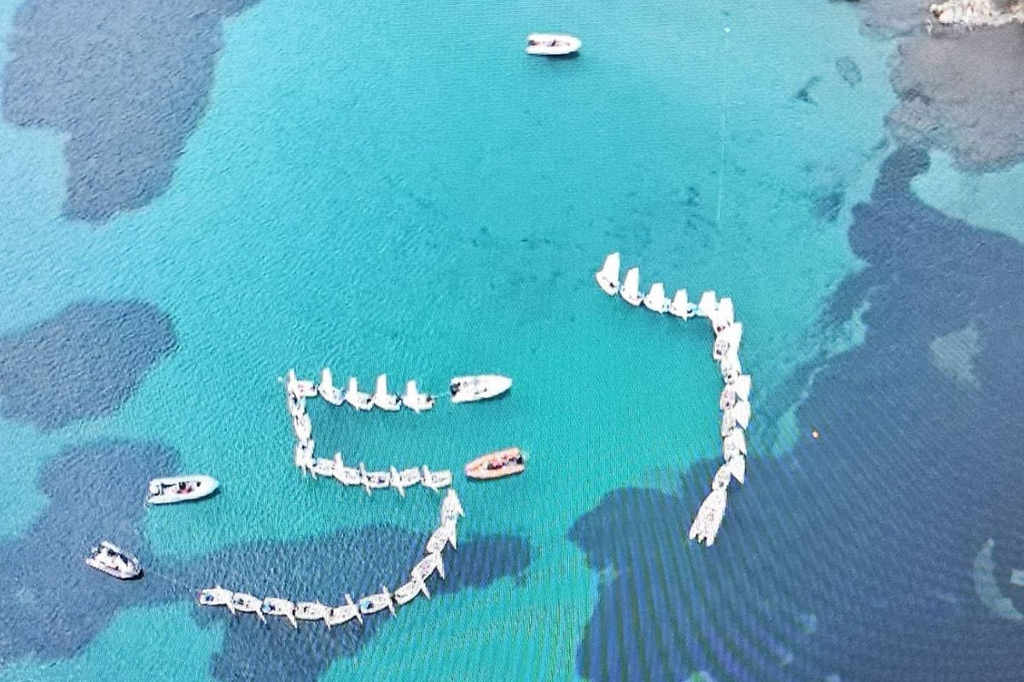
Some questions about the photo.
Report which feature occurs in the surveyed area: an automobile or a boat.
boat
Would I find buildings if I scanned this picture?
No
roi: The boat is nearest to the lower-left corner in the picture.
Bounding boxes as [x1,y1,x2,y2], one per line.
[84,544,141,573]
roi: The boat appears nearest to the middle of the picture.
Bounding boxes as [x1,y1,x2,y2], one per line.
[446,375,512,400]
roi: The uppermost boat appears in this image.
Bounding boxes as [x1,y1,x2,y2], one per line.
[524,35,581,51]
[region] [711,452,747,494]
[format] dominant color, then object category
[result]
white boat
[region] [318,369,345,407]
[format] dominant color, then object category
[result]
white boat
